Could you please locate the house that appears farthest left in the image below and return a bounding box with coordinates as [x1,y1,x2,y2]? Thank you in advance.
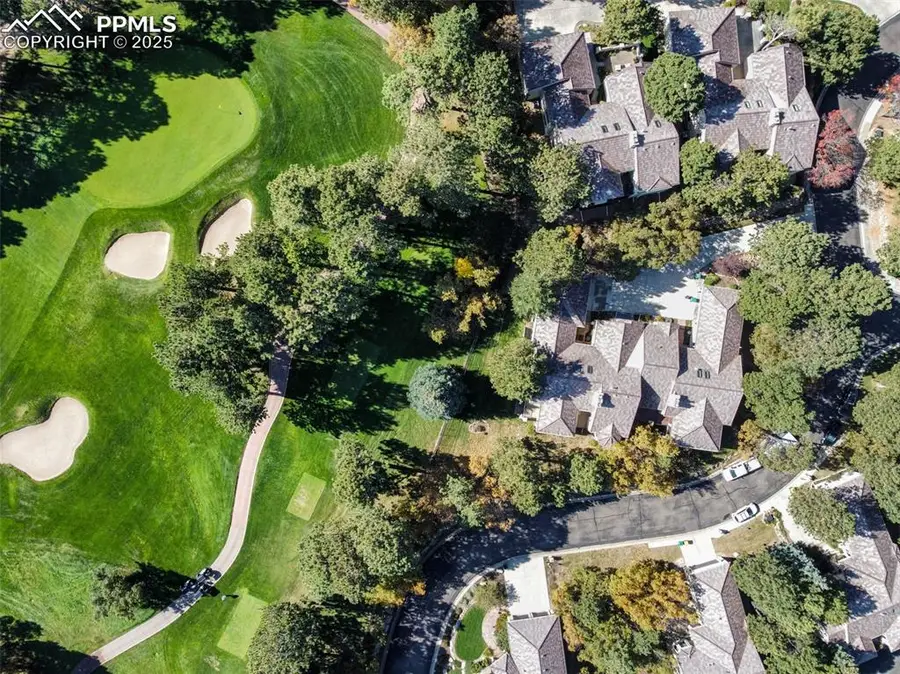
[483,611,569,674]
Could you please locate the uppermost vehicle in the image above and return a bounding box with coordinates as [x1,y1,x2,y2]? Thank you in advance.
[835,382,859,413]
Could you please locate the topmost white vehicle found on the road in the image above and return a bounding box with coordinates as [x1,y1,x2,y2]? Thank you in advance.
[722,457,762,483]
